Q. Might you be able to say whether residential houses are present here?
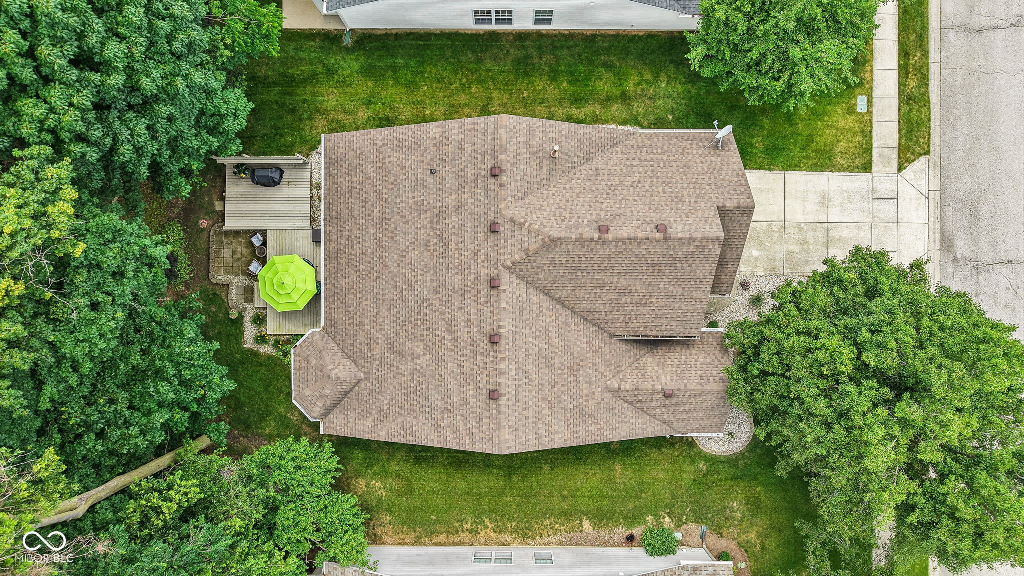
Yes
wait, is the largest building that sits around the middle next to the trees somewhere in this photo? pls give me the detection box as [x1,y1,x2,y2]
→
[290,114,753,454]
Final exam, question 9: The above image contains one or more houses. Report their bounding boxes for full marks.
[322,526,736,576]
[290,114,753,454]
[322,0,736,36]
